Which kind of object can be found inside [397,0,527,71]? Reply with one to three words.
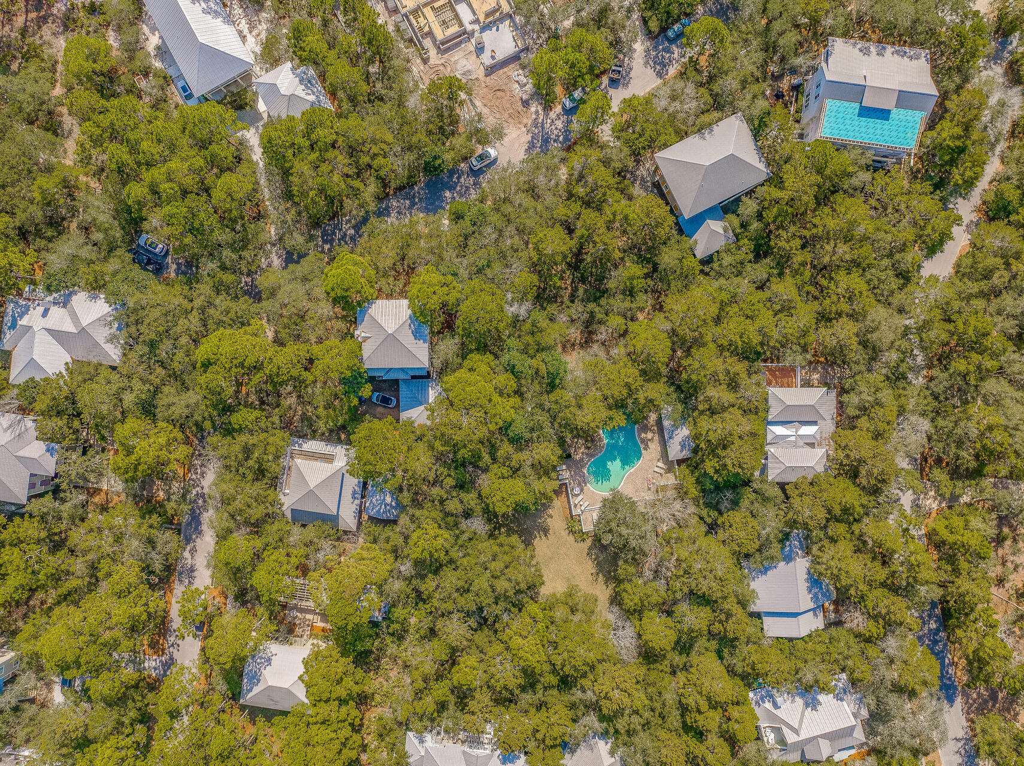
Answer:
house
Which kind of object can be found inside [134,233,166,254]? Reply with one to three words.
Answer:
car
